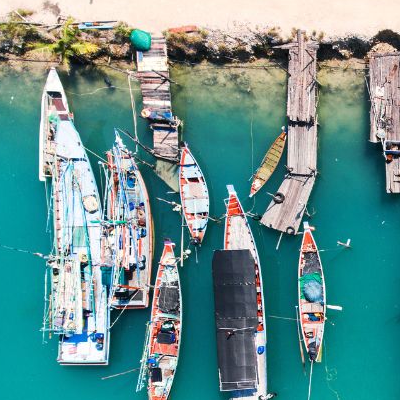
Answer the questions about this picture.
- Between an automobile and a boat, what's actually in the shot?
boat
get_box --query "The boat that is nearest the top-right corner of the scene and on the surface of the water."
[249,126,287,197]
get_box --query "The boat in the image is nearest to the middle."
[177,144,211,258]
